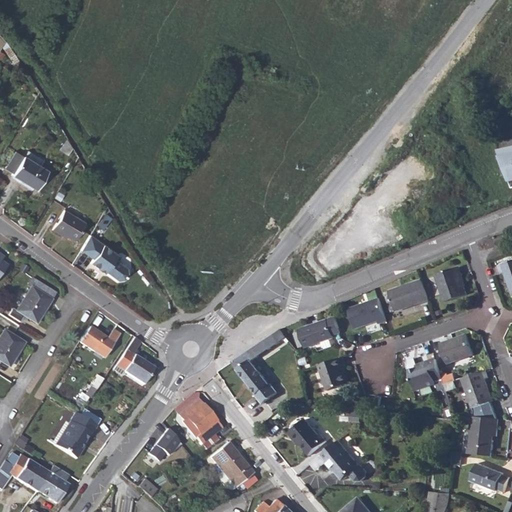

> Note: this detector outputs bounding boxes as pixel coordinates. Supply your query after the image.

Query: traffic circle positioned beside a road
[166,322,219,384]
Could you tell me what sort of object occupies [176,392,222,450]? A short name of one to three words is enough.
building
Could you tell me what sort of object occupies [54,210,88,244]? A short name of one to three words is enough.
house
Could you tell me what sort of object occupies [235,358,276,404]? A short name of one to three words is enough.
house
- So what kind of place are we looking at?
residential area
